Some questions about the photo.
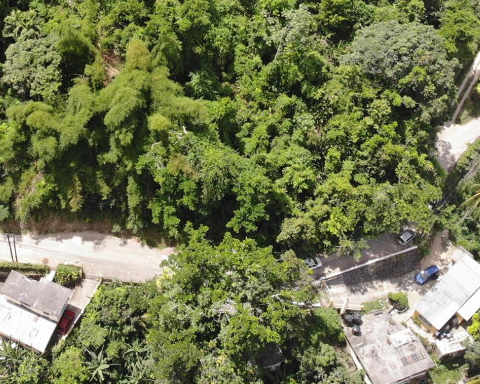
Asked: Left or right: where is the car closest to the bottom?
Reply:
left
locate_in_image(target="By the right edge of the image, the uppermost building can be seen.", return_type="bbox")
[412,253,480,336]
